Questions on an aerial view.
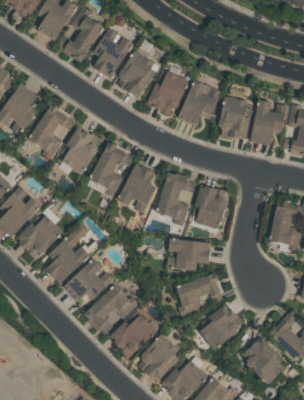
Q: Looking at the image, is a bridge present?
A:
No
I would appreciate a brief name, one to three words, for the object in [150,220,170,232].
swimming pool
